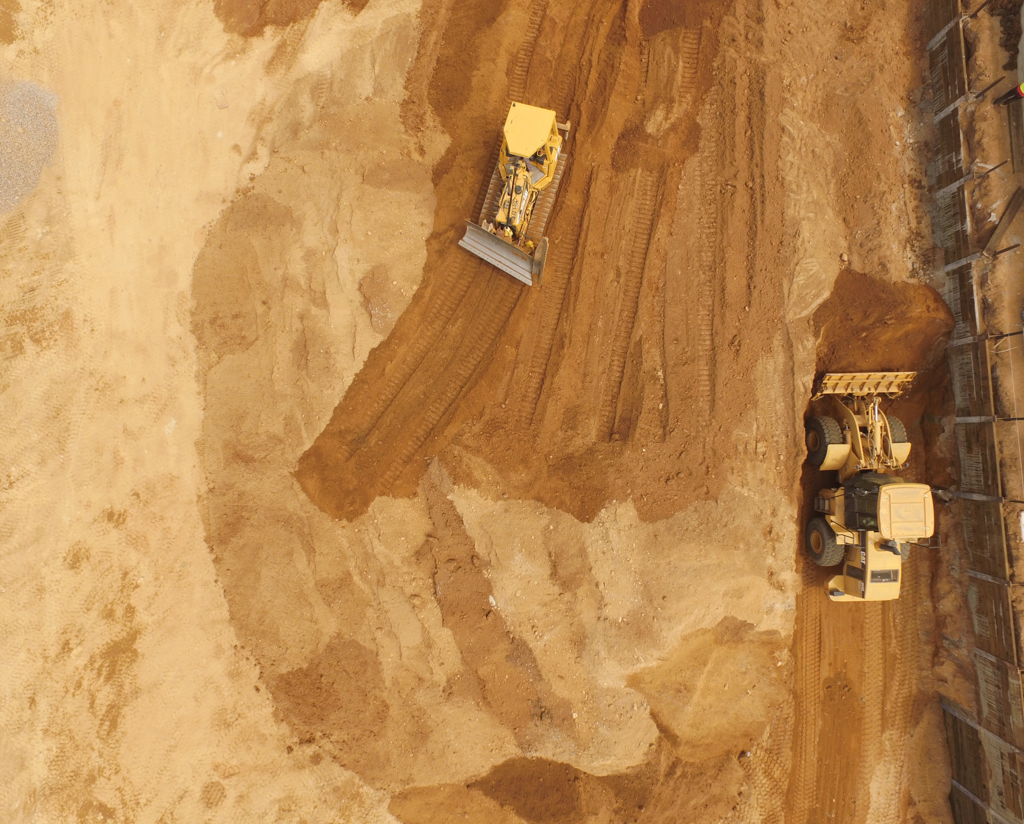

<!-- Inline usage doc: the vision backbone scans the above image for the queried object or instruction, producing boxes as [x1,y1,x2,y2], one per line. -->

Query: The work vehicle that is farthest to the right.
[800,371,937,601]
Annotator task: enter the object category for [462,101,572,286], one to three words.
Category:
work vehicle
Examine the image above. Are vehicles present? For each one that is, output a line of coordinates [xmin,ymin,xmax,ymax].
[800,371,937,601]
[462,101,572,286]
